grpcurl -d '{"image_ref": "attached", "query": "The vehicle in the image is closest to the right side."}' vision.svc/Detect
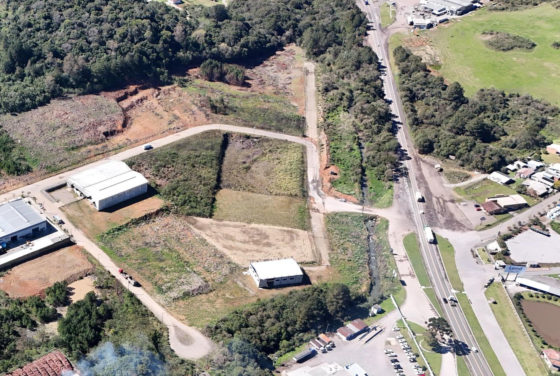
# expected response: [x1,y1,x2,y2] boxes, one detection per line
[530,224,553,237]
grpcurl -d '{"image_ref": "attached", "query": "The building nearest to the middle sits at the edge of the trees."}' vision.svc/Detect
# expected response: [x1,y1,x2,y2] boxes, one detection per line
[249,257,303,288]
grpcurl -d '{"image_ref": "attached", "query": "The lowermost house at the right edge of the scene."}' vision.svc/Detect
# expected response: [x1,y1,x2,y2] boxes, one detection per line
[541,347,560,369]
